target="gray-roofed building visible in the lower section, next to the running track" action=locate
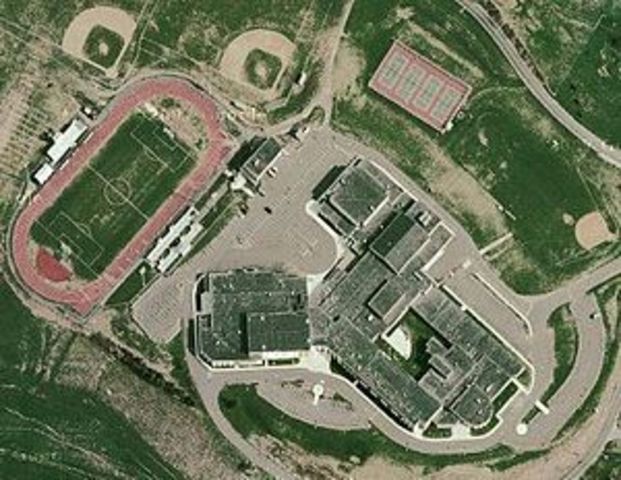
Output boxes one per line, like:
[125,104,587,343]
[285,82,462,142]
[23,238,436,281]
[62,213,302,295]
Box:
[193,157,525,434]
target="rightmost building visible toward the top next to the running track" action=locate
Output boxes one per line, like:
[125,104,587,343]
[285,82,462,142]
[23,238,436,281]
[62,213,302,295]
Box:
[241,138,287,183]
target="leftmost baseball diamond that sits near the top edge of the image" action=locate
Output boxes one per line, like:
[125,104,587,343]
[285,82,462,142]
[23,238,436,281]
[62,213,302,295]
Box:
[62,8,138,81]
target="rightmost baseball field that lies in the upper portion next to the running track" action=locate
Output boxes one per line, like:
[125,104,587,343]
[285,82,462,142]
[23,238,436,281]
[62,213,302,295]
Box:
[221,30,297,103]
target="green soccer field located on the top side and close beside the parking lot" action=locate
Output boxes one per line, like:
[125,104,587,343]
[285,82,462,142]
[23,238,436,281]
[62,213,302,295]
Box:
[37,103,201,279]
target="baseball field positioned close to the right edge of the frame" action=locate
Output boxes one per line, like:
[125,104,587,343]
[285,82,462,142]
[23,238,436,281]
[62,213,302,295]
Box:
[564,211,619,250]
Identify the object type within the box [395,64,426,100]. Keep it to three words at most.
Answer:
tennis court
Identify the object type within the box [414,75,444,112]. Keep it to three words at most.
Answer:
tennis court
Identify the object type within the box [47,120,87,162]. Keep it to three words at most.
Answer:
building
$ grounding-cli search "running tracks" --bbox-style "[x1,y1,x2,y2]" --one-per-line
[12,78,233,319]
